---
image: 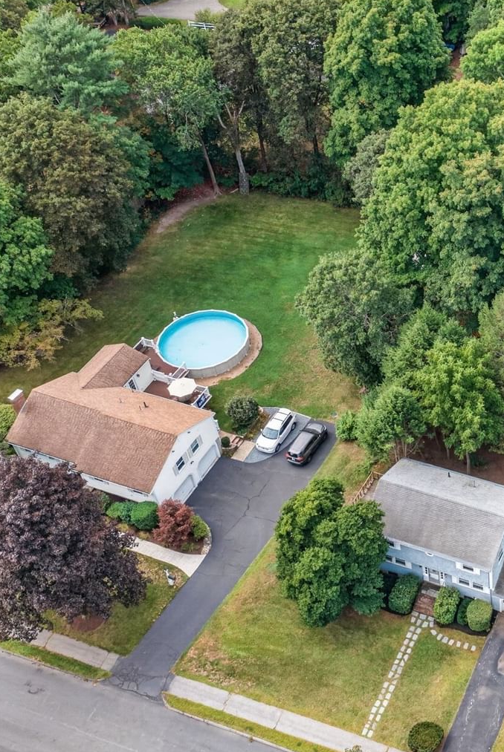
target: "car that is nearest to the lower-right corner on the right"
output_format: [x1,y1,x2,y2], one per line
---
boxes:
[289,424,329,464]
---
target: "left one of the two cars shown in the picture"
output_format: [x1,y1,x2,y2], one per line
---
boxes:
[257,412,296,454]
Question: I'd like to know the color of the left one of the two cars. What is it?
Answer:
white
